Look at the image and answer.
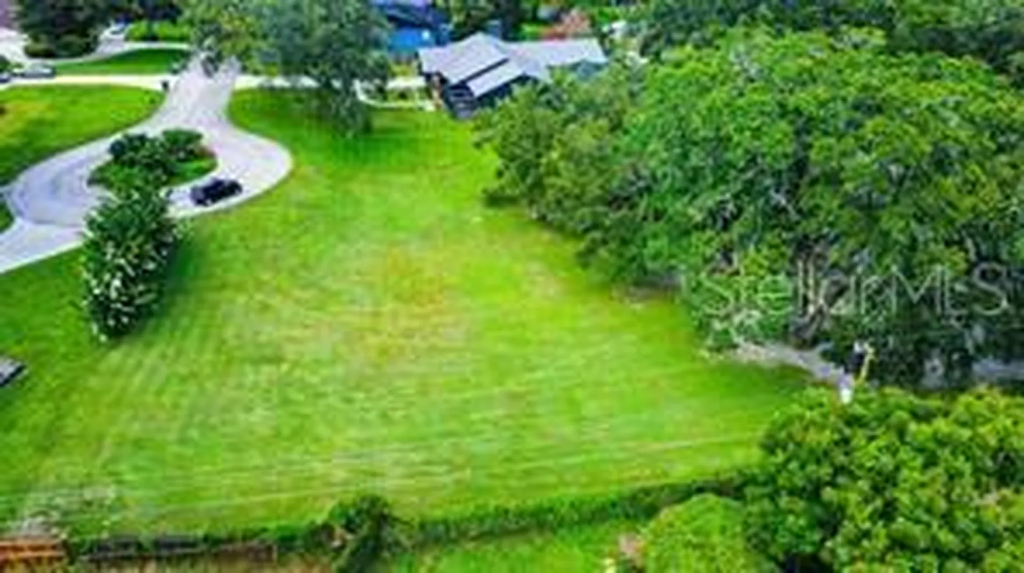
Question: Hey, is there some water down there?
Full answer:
No, water can't be seen anywhere here.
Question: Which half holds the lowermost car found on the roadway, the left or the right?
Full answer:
You can find the lowermost car found on the roadway on the left side of the picture.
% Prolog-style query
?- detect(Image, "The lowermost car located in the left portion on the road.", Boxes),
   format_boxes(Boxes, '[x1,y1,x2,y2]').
[188,174,244,204]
